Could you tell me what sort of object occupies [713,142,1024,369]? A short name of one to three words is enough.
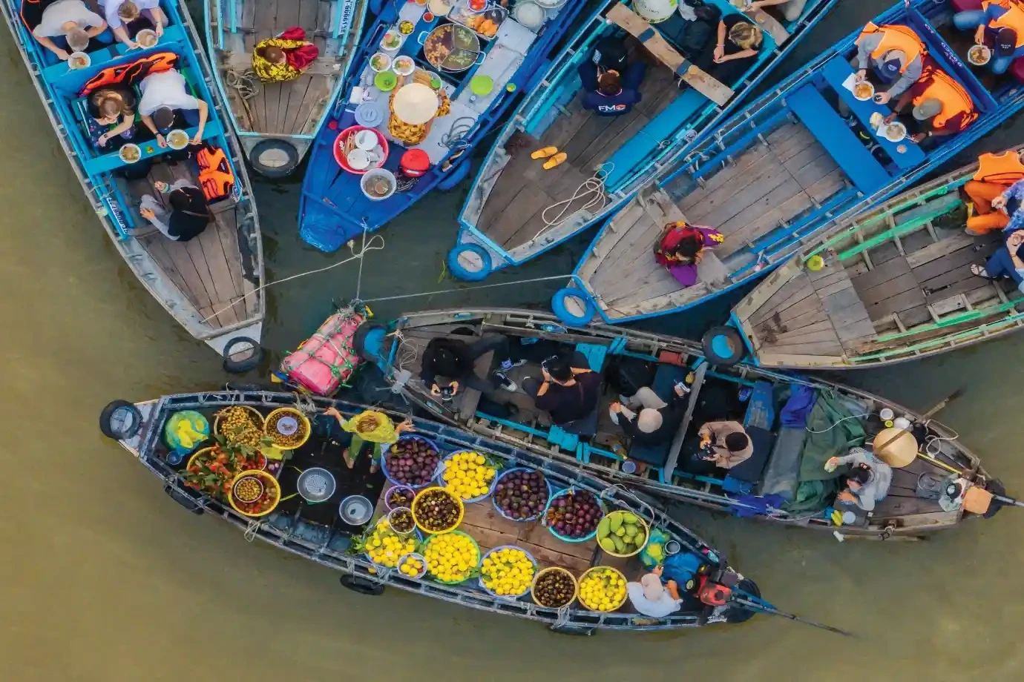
boat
